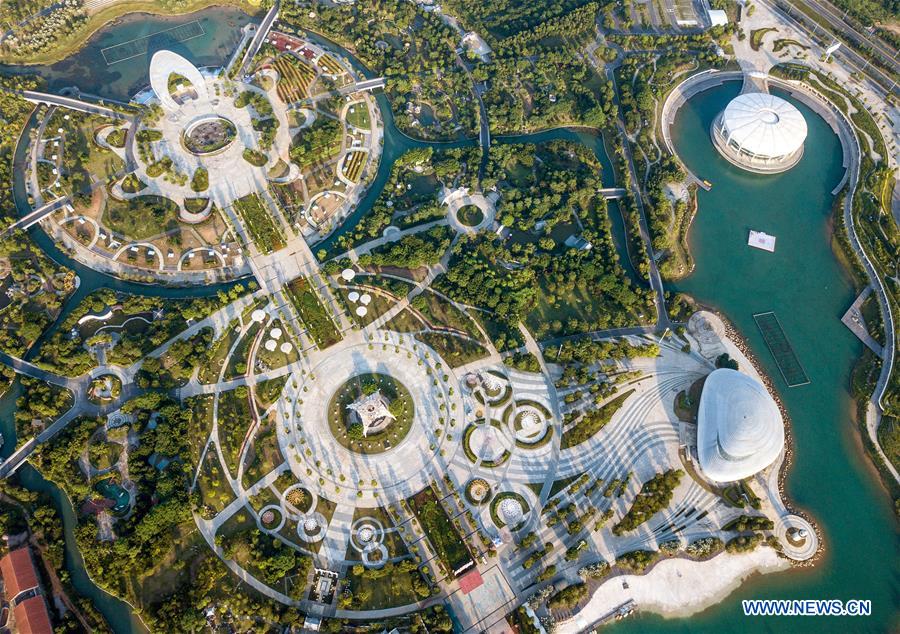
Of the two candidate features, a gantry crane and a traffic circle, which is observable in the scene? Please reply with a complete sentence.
This aerial view contains a traffic circle.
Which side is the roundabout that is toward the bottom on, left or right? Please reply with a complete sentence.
The roundabout that is toward the bottom appears in the left half of the scene.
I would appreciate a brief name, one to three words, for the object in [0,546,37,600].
house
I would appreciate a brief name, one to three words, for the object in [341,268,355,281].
umbrella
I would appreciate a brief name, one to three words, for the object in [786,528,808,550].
lighthouse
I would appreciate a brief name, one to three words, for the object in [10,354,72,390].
bridge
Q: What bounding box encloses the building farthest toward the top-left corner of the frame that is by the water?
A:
[150,50,207,111]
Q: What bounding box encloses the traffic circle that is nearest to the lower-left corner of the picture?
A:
[77,364,132,414]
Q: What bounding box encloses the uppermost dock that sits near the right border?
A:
[841,285,886,359]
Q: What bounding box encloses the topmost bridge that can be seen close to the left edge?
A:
[18,89,116,118]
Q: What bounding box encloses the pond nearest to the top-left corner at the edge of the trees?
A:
[0,0,297,107]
